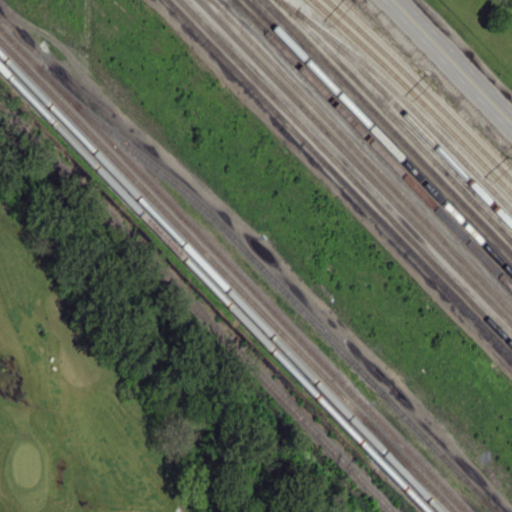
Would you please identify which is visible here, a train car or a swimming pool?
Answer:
train car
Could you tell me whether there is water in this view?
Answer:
No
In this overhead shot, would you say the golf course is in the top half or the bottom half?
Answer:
bottom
